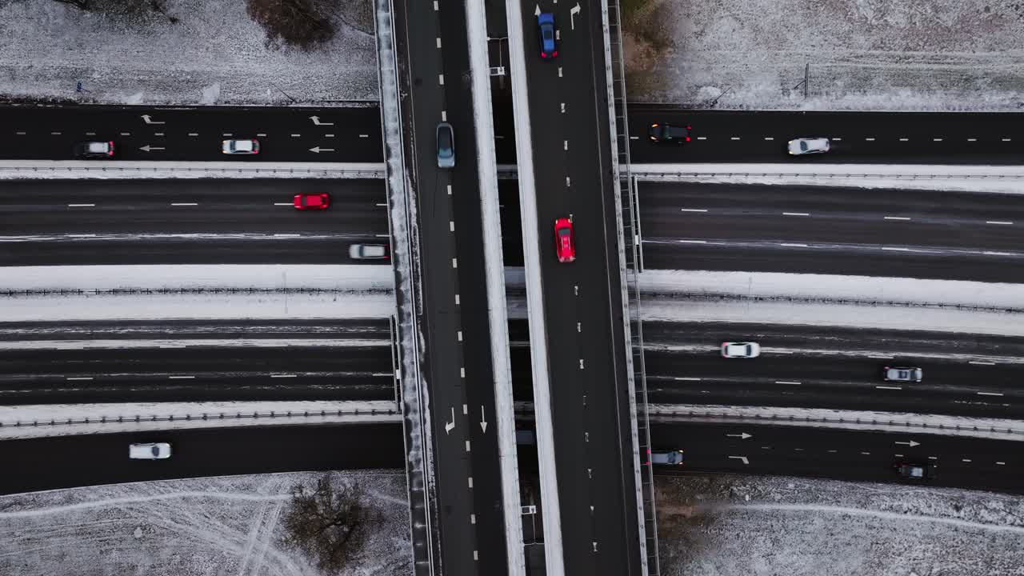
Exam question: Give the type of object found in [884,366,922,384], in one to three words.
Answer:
car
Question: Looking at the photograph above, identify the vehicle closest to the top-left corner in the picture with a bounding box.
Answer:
[74,140,114,159]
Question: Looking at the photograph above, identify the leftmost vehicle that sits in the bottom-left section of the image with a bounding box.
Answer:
[128,442,173,461]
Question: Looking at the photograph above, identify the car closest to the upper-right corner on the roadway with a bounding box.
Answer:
[788,136,831,156]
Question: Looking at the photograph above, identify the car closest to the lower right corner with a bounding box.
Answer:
[893,462,936,482]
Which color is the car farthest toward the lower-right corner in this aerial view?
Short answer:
black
